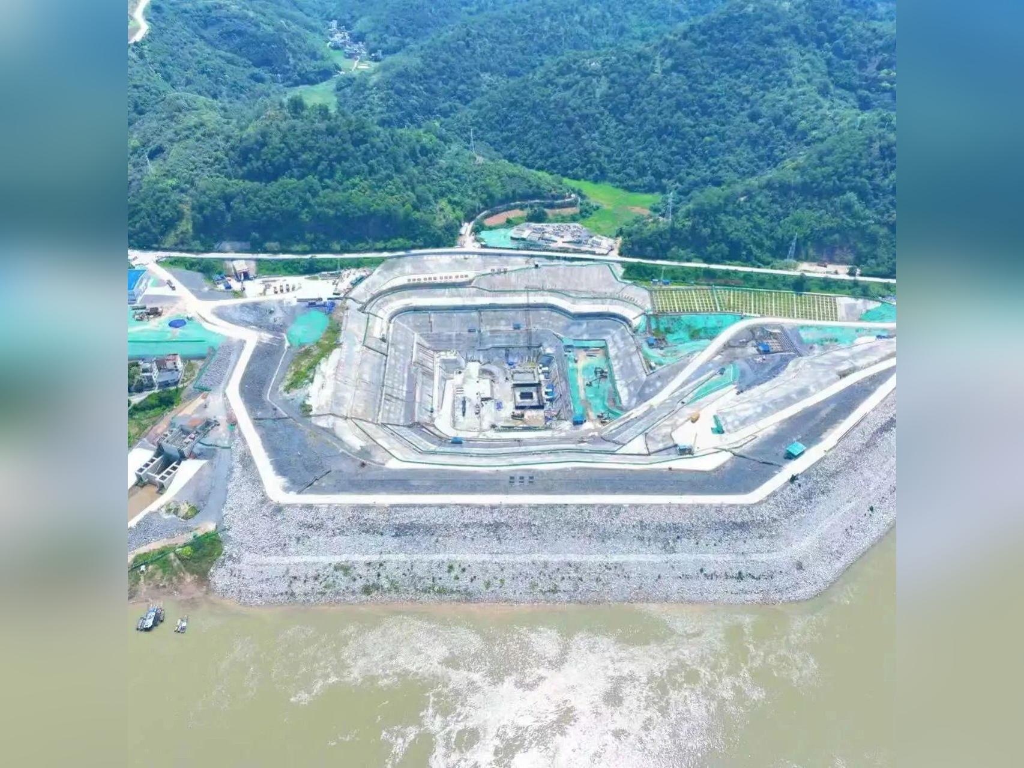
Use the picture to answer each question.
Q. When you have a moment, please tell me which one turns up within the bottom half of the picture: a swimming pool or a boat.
boat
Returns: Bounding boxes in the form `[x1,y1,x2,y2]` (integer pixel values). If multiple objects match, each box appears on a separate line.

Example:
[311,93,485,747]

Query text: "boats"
[174,616,189,632]
[138,605,166,631]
